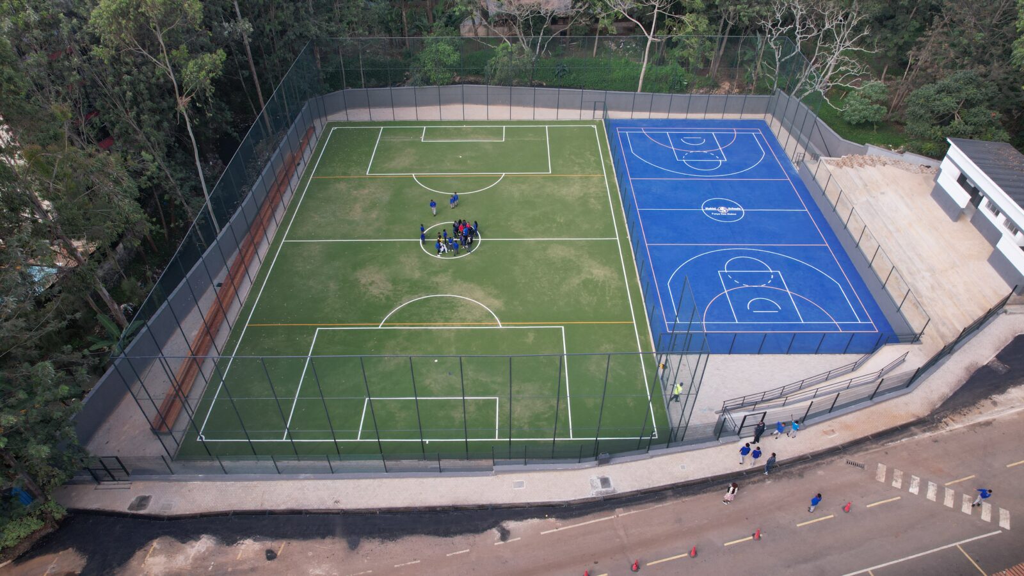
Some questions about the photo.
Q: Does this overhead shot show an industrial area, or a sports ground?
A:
sports ground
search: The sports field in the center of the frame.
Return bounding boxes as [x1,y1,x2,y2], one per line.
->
[174,120,671,459]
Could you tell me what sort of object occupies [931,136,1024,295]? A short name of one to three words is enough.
building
